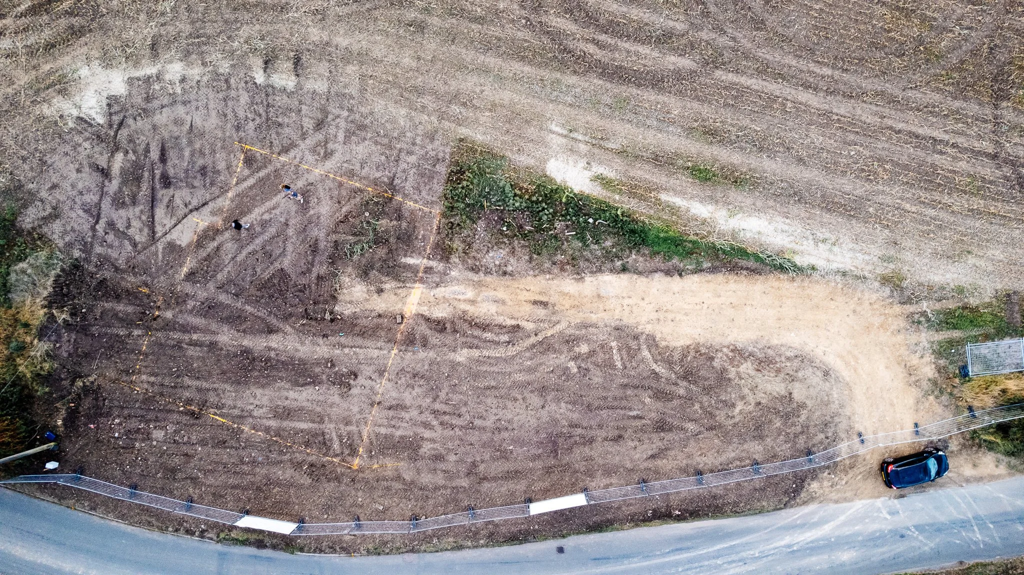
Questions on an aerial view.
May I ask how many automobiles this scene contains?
one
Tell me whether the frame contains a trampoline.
No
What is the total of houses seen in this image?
none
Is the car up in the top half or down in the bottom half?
bottom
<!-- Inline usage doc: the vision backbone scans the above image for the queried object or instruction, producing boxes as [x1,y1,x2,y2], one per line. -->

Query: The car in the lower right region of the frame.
[879,447,949,491]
